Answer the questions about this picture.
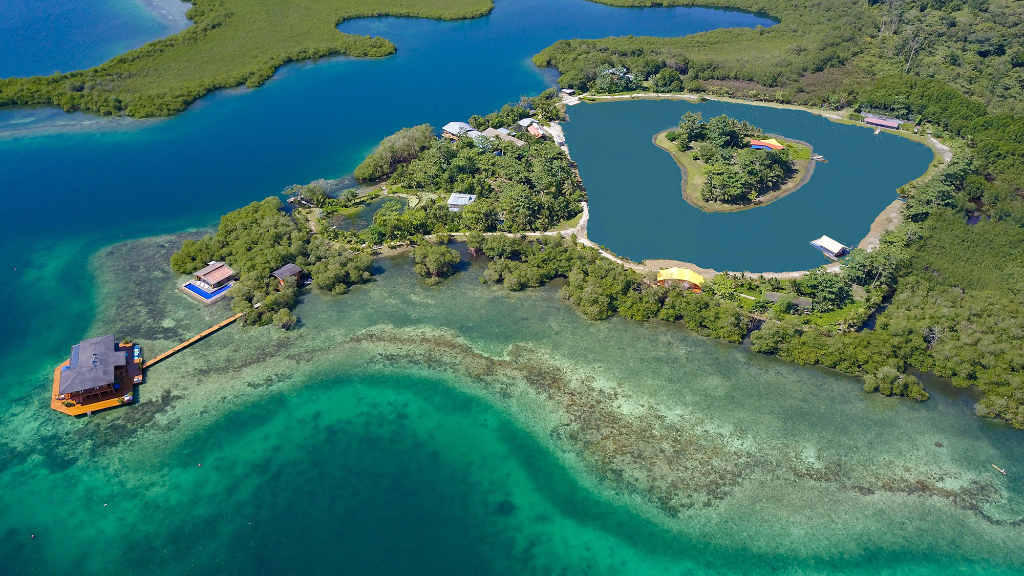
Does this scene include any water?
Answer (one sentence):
Yes, water shows up in the scene.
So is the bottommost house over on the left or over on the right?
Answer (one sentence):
It is on the left.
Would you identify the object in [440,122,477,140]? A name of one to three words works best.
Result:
house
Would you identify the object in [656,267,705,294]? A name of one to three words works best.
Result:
house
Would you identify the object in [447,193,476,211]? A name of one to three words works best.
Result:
building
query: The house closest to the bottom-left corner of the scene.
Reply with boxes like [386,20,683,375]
[51,333,143,417]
